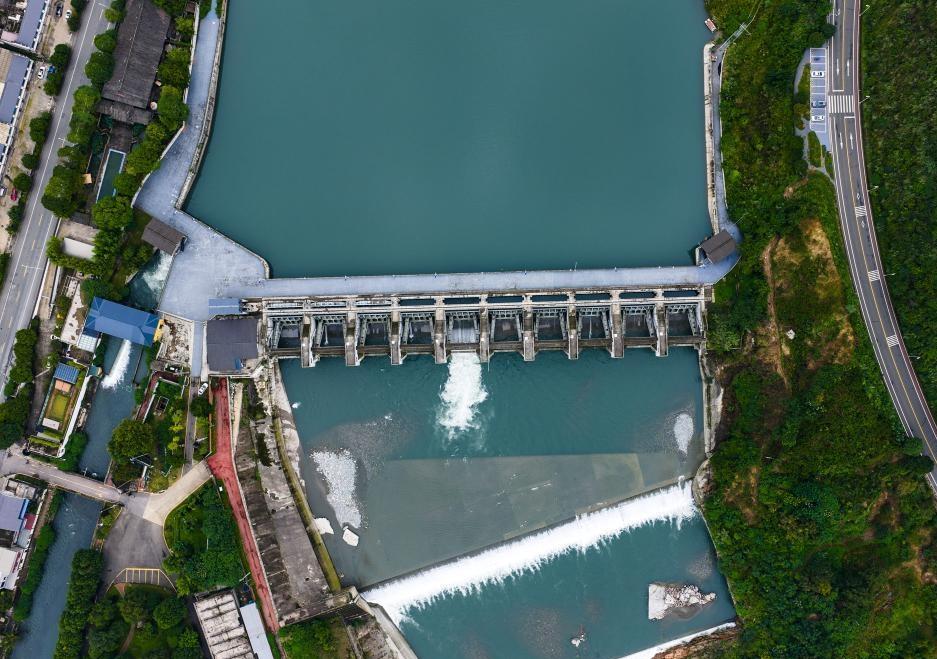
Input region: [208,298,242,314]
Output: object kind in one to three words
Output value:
building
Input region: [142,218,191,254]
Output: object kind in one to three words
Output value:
building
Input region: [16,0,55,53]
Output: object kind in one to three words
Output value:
house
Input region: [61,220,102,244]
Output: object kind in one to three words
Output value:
house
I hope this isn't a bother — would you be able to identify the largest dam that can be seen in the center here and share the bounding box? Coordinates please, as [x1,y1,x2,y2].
[247,267,721,367]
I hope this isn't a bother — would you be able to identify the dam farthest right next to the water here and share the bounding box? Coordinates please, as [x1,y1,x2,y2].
[620,624,734,659]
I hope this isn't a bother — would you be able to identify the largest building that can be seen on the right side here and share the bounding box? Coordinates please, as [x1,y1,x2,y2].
[698,230,736,263]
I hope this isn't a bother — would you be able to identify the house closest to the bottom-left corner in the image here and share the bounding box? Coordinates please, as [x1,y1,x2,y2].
[0,546,29,590]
